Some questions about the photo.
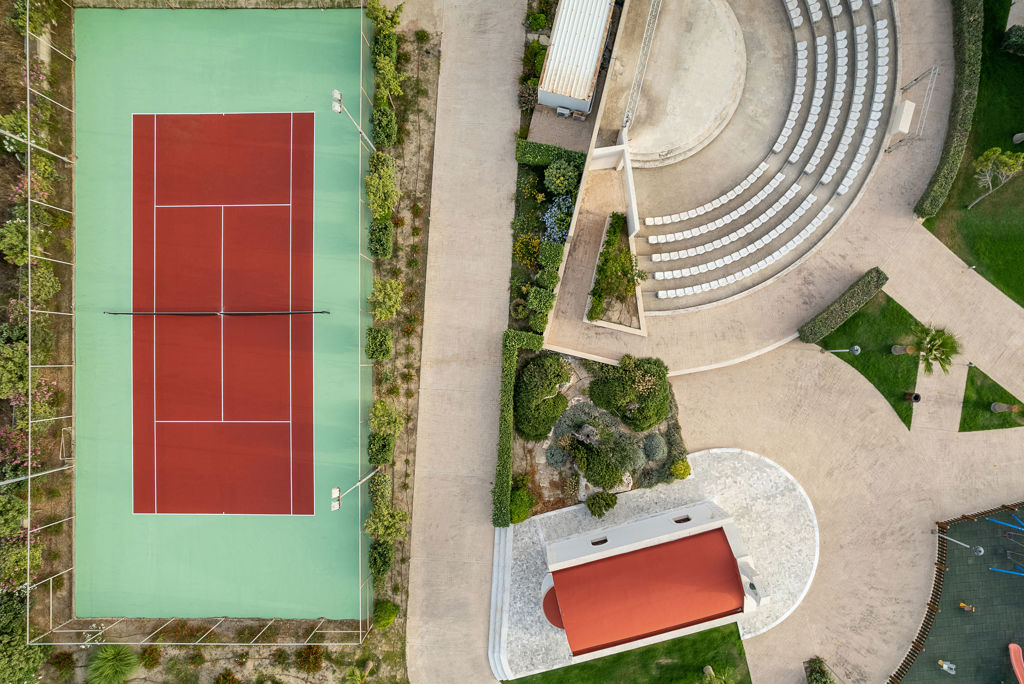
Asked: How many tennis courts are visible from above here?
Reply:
1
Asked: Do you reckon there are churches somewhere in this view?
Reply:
Yes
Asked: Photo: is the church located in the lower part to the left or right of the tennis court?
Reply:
on its right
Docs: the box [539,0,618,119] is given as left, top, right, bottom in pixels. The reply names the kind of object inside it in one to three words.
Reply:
building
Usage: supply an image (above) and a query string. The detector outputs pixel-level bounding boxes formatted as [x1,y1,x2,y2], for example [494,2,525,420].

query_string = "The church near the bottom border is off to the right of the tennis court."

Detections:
[540,501,763,662]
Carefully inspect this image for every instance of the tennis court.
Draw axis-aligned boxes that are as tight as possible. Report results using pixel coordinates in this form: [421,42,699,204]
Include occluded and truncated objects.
[71,9,374,621]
